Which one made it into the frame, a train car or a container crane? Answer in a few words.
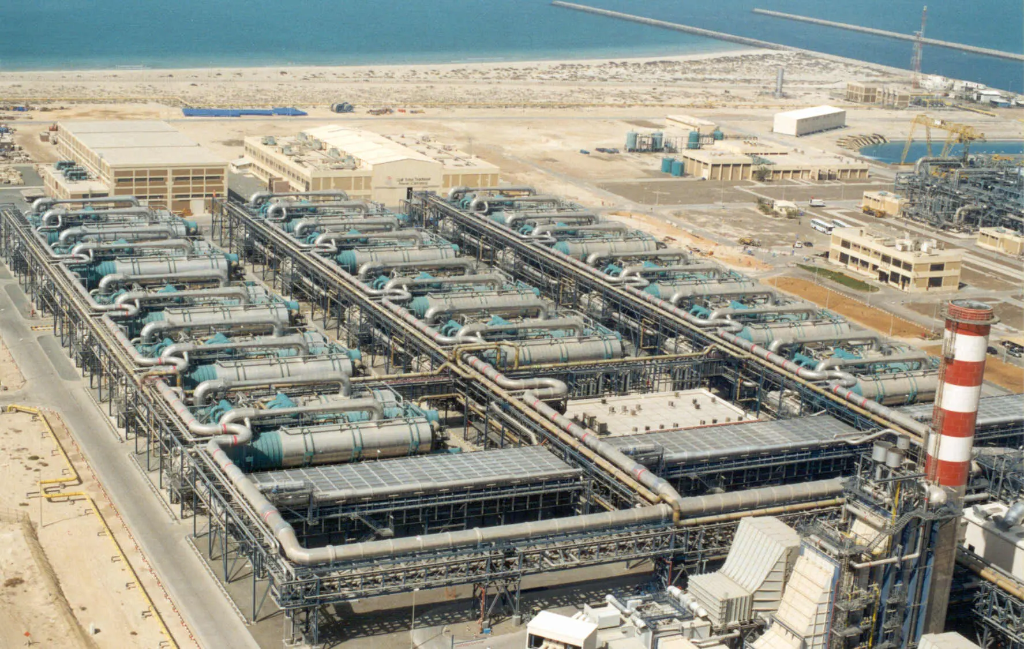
container crane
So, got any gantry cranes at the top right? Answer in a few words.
Yes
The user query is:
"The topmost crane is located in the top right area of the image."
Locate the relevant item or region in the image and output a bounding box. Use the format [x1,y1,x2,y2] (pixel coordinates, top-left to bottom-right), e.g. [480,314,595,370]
[901,111,988,163]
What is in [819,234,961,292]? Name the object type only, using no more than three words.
building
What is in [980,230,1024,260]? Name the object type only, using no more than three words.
building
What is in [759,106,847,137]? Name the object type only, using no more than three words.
shed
